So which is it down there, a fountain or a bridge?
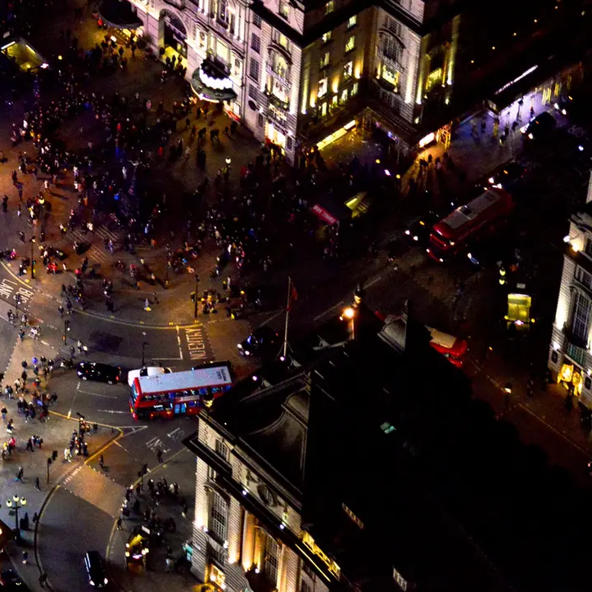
fountain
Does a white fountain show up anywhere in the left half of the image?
No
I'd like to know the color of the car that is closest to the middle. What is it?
black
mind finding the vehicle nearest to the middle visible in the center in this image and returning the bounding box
[242,327,283,355]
